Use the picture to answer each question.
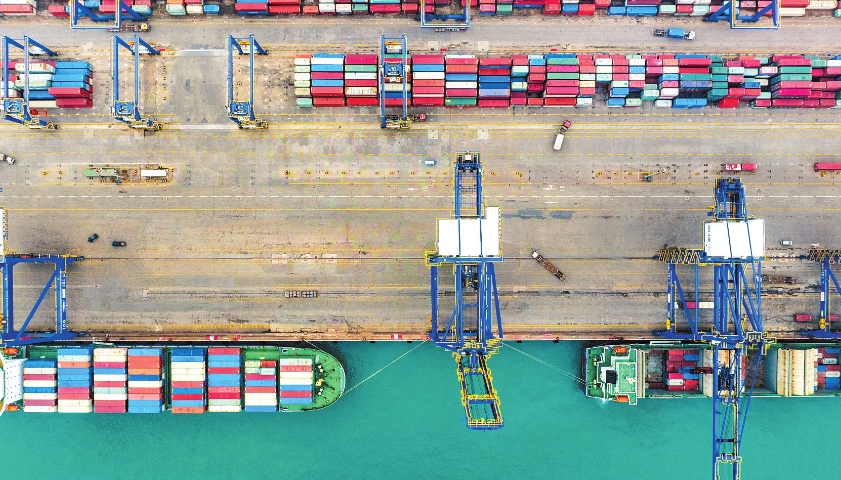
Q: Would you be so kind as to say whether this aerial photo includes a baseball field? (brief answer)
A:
No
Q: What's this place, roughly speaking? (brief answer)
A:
port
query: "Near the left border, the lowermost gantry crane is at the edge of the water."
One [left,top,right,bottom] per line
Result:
[0,201,86,359]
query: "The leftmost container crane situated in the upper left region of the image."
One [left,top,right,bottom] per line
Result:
[0,35,64,130]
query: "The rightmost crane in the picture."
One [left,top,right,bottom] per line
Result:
[796,217,841,344]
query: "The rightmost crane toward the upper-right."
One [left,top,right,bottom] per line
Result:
[696,0,780,30]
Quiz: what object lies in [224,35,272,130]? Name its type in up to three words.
container crane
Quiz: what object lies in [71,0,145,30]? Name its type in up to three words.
container crane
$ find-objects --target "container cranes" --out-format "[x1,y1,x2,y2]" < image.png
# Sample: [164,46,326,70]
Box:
[696,0,780,30]
[71,0,145,30]
[377,35,412,130]
[0,35,64,130]
[109,35,165,130]
[224,35,272,130]
[417,151,509,432]
[649,176,779,480]
[0,201,86,359]
[411,0,470,30]
[796,217,841,344]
